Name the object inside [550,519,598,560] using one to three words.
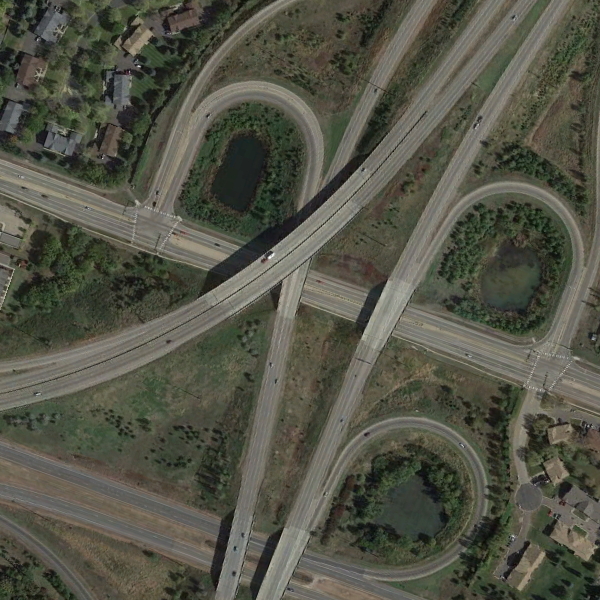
house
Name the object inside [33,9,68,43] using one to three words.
house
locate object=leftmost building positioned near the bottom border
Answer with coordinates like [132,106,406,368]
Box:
[507,543,546,589]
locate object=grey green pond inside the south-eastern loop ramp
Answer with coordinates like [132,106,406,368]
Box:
[374,471,448,543]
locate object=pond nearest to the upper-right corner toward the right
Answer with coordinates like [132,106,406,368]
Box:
[480,241,544,317]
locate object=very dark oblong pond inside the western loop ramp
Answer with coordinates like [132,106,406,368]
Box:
[207,129,271,213]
